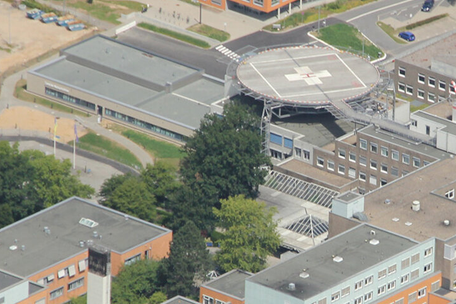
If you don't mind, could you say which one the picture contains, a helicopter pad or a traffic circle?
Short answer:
helicopter pad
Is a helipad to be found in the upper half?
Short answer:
Yes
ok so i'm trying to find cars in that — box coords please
[398,30,416,39]
[422,0,434,9]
